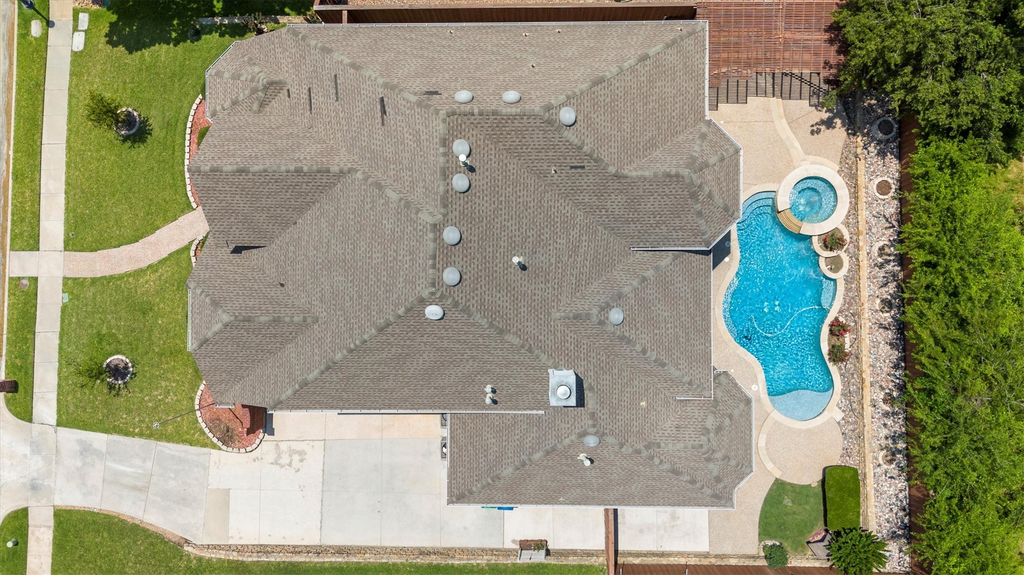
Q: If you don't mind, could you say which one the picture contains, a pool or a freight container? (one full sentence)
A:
Of the two, only a pool appears.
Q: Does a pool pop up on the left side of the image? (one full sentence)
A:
No, there's no pool to be seen on the left side of the image.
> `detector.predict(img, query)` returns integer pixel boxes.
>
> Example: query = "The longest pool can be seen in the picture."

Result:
[716,184,845,428]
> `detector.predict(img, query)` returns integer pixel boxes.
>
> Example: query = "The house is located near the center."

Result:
[188,20,754,508]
